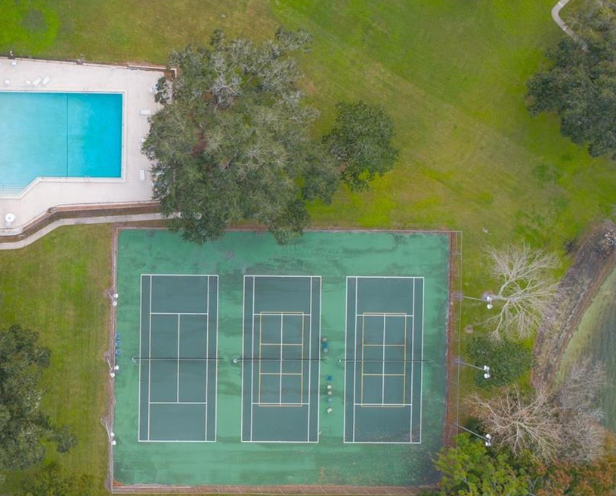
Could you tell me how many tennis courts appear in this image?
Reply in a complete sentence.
I count 3 tennis courts.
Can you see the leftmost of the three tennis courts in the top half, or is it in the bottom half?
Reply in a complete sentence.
The bottom half of the photo is where the leftmost of the three tennis courts is.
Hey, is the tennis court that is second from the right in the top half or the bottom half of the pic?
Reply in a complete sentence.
You can find the tennis court that is second from the right in the bottom half.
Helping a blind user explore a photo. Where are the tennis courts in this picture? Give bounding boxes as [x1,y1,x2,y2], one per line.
[138,275,219,443]
[343,276,425,444]
[242,275,322,443]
